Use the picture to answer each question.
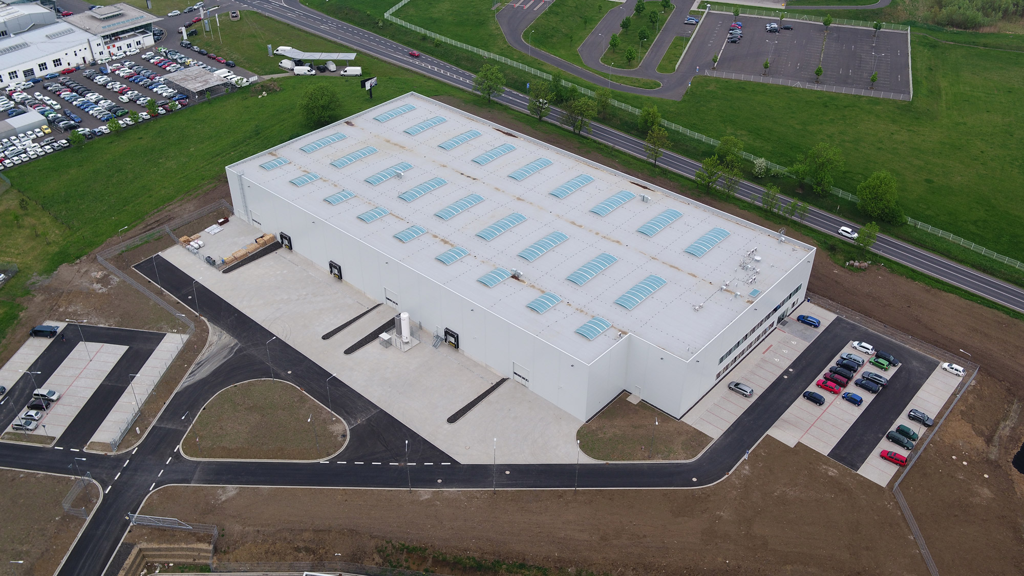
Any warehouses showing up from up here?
Yes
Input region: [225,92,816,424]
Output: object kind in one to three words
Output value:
warehouse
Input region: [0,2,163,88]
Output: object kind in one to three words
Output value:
building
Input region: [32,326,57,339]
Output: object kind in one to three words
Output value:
vehicle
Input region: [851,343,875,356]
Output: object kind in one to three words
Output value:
vehicle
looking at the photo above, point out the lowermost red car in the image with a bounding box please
[880,451,907,468]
